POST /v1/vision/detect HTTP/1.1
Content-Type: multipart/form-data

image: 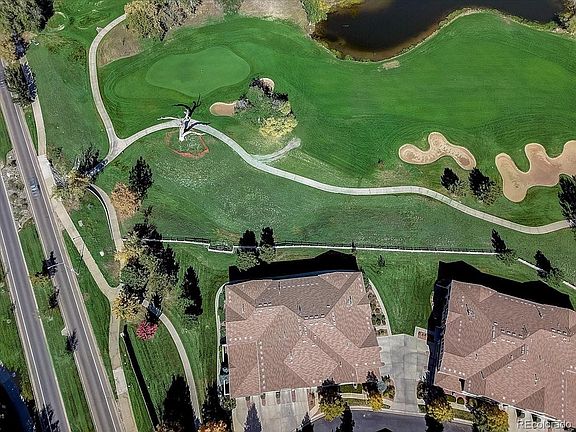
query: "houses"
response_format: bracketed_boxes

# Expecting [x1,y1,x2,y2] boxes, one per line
[222,272,382,395]
[431,280,576,421]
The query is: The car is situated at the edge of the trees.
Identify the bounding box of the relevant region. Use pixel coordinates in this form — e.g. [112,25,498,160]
[28,178,42,196]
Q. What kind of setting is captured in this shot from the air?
golf course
